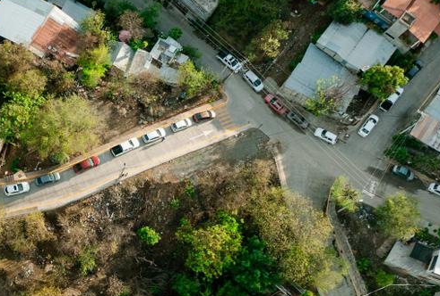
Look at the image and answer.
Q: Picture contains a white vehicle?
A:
Yes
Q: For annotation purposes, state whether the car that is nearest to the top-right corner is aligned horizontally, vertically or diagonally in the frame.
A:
diagonally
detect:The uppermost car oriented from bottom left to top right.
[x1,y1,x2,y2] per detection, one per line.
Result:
[401,56,425,82]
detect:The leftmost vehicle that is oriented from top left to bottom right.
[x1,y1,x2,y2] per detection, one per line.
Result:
[214,49,242,71]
